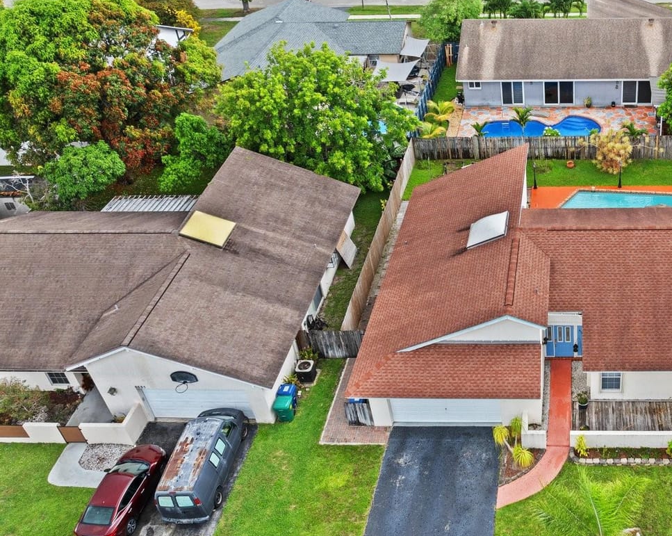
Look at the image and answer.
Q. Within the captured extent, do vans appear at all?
Yes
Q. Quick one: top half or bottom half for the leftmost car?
bottom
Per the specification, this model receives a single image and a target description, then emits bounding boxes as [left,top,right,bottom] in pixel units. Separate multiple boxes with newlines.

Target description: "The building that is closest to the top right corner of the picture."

[458,0,672,105]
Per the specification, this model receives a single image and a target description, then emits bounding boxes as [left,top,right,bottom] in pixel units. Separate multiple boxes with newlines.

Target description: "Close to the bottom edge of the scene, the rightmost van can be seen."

[143,414,244,531]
